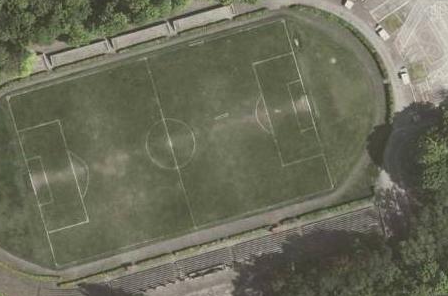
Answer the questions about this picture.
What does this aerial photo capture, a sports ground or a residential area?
sports ground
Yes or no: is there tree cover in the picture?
Yes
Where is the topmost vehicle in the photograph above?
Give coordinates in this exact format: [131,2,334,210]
[375,26,390,42]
